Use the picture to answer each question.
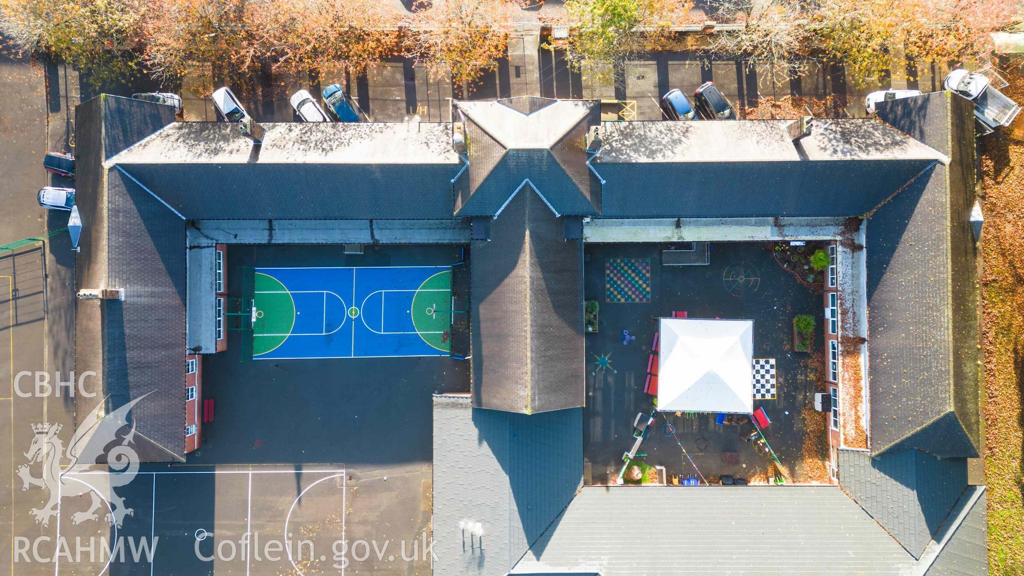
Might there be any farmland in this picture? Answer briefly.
No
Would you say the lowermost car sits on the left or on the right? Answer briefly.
left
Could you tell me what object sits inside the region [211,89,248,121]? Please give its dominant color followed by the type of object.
white car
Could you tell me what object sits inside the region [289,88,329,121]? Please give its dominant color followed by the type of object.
white car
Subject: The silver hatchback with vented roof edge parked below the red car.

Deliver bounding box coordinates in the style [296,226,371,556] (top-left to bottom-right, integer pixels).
[35,187,74,212]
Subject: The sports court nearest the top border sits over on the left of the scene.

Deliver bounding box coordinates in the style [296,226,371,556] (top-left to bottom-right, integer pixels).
[253,266,452,359]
